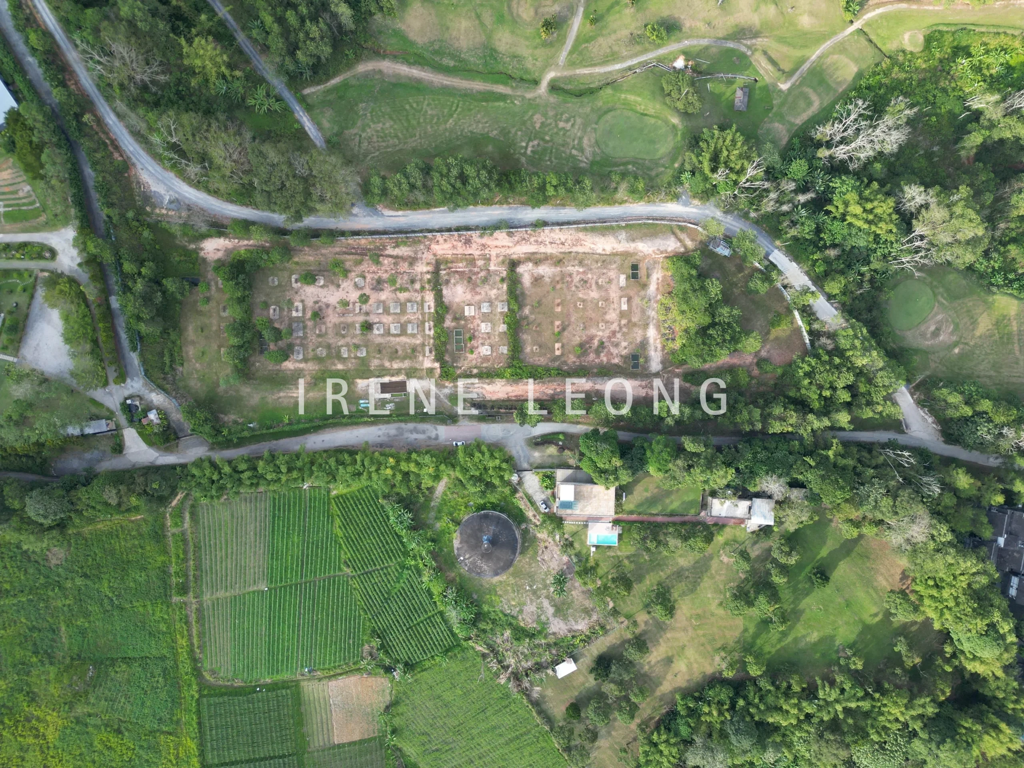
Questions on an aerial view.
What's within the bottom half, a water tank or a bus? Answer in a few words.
water tank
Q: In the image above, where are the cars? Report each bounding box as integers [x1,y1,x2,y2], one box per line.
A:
[540,501,550,513]
[453,441,465,446]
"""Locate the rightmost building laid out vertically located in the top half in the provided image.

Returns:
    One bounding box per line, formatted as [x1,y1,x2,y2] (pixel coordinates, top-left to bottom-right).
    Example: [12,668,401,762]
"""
[732,82,749,113]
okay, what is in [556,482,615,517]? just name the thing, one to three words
house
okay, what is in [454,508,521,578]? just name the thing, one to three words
water tank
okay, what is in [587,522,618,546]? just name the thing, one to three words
swimming pool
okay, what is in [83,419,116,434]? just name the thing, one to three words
shed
